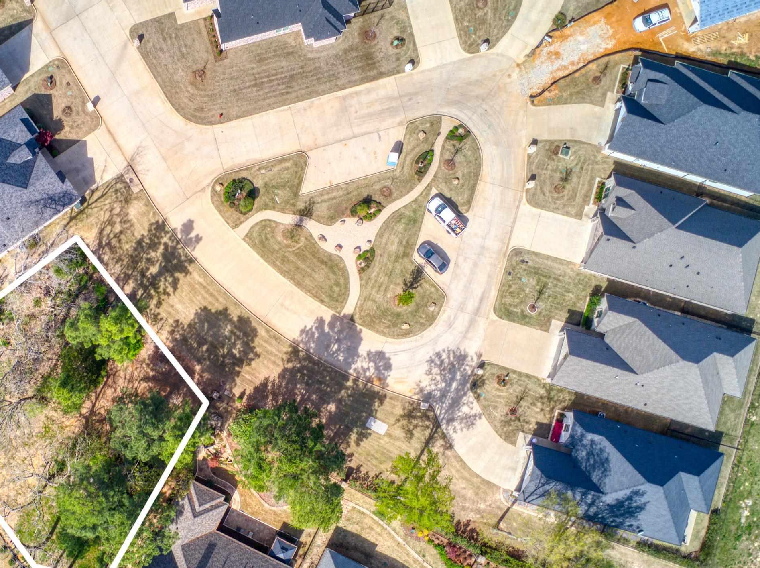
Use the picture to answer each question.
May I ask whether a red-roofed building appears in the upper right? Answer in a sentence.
No, in the upper right there is no red-roofed building.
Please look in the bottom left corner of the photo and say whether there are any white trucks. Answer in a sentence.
No, no white truck is visible in the bottom left corner of the photo.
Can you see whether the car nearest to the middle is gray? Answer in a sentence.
Yes, the car nearest to the middle is gray.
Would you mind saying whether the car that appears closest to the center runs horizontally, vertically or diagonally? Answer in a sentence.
In this picture, the car that appears closest to the center is oriented diagonally.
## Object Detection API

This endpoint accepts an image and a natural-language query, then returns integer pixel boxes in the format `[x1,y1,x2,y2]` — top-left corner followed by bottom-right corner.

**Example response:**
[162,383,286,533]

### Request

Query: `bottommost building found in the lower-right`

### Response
[510,409,724,547]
